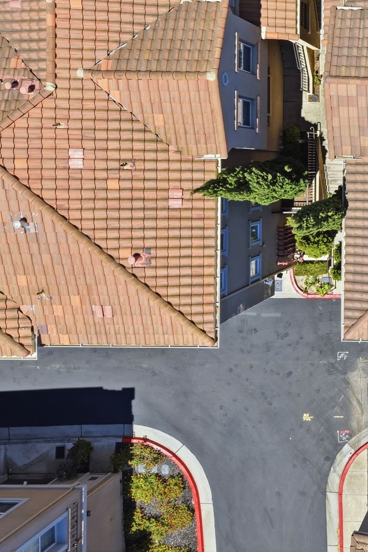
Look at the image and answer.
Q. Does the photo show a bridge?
No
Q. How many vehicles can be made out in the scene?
none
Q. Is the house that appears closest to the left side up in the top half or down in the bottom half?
bottom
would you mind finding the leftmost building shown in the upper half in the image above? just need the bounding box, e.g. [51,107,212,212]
[0,0,320,361]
